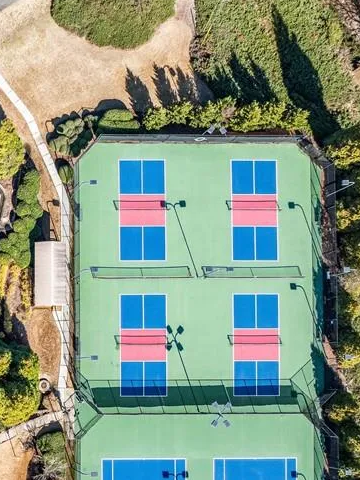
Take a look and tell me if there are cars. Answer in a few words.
No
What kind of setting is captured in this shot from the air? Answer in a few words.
sports ground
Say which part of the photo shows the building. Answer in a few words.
left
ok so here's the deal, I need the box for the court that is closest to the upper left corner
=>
[75,143,199,277]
